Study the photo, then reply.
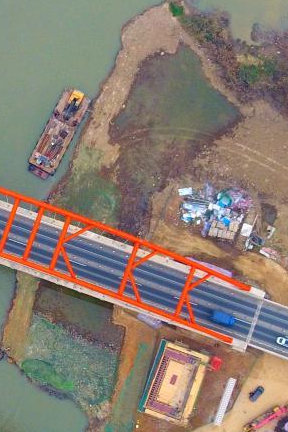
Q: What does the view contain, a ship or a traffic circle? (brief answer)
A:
ship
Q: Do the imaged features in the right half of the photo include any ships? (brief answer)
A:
No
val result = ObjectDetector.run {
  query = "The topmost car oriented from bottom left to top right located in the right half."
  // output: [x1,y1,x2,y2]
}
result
[248,385,267,402]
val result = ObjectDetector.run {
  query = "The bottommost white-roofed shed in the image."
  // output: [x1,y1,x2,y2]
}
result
[212,377,237,427]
